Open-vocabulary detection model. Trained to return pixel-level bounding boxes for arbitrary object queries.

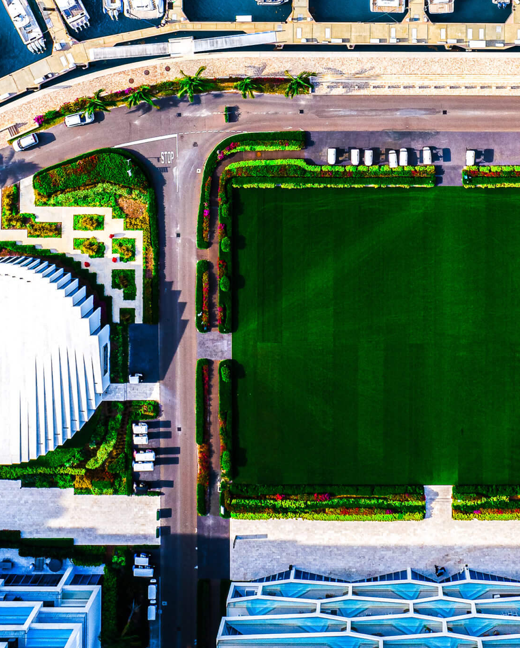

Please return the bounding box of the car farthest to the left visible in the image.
[12,131,42,152]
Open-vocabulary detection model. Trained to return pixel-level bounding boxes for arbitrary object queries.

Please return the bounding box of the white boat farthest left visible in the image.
[5,0,45,51]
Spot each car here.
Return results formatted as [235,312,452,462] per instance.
[64,111,96,127]
[12,131,42,152]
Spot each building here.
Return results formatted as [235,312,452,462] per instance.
[0,566,118,648]
[216,564,520,648]
[0,254,110,467]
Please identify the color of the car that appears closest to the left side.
white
